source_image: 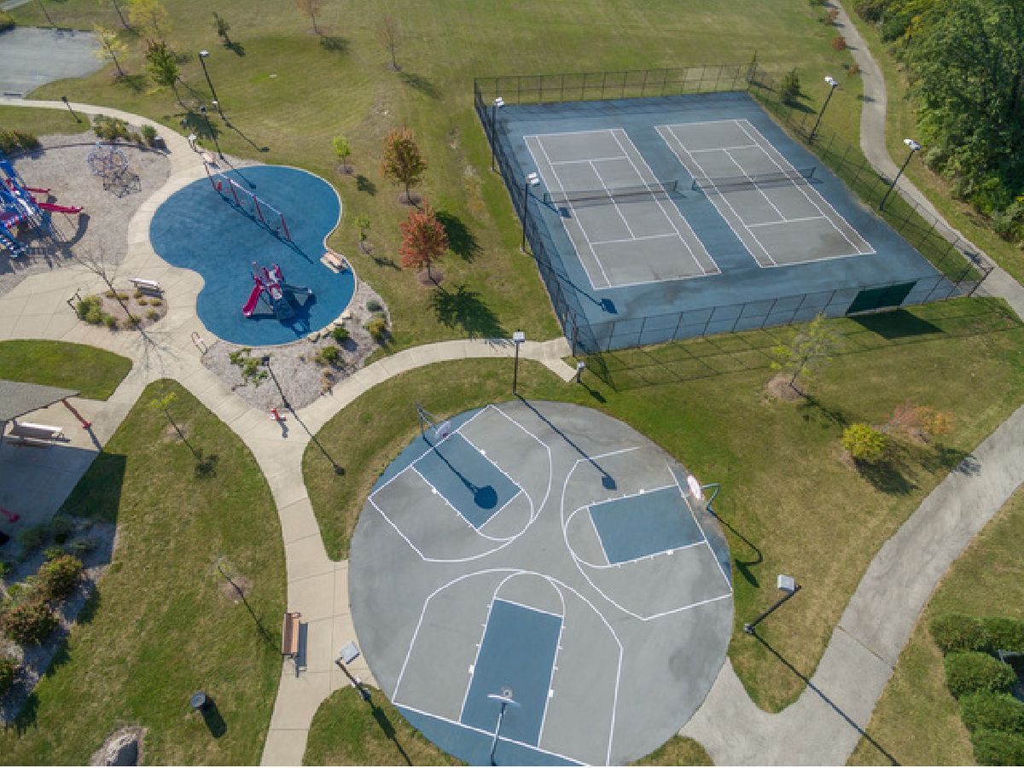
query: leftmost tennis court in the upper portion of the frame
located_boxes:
[477,98,780,355]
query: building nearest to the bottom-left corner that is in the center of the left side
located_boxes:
[0,381,90,428]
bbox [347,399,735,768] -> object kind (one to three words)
basketball court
